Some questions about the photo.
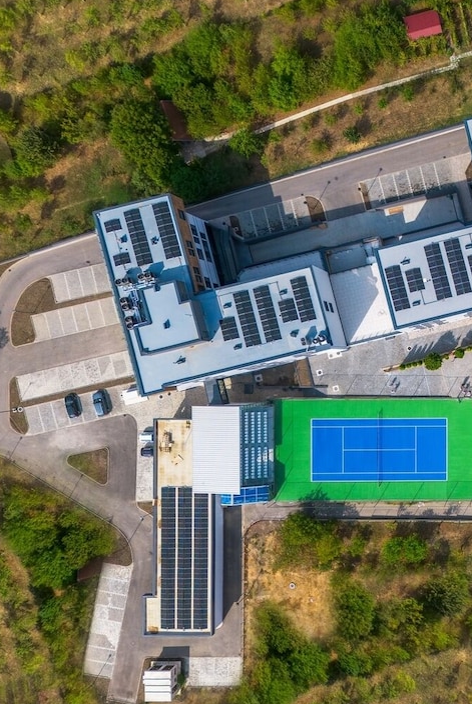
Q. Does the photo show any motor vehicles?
Yes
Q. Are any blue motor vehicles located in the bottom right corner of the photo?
No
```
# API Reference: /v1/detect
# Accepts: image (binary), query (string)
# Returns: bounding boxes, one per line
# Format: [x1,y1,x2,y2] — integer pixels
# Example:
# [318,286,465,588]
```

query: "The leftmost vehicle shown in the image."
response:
[62,393,80,418]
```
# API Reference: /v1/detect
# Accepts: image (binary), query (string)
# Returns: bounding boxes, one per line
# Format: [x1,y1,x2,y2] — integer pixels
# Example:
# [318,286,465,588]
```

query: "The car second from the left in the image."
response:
[90,390,108,415]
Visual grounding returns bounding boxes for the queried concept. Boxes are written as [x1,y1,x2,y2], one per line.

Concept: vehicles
[138,446,153,459]
[62,393,80,418]
[90,390,108,415]
[138,432,153,444]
